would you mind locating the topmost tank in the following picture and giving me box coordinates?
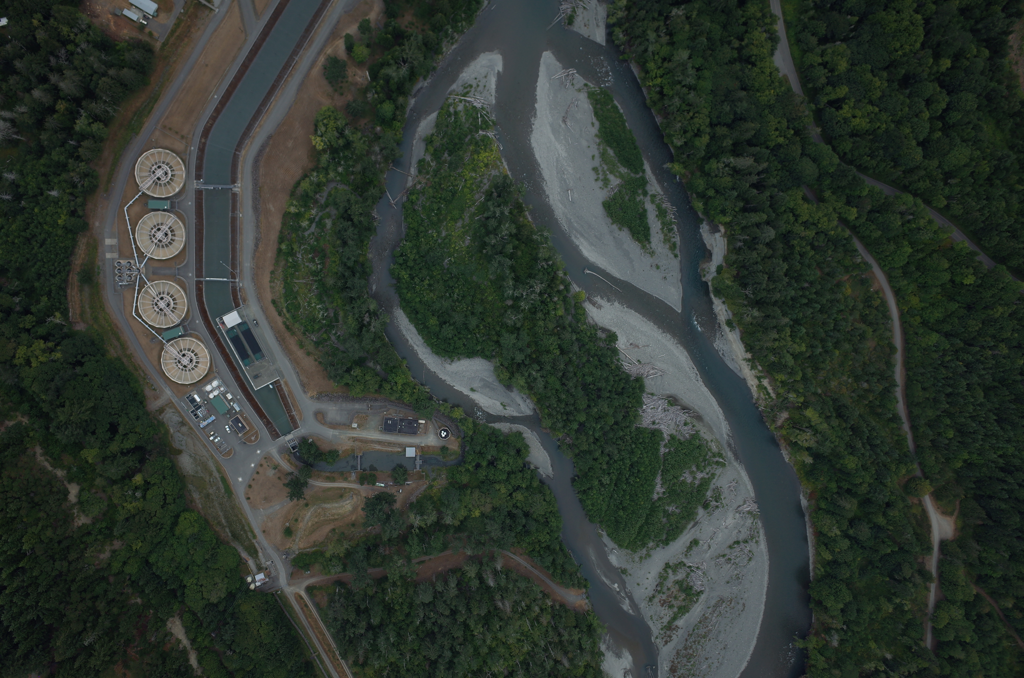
[135,148,187,199]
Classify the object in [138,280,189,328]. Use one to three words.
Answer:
storage tank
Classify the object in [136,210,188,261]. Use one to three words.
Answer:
storage tank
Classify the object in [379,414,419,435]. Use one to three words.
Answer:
building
